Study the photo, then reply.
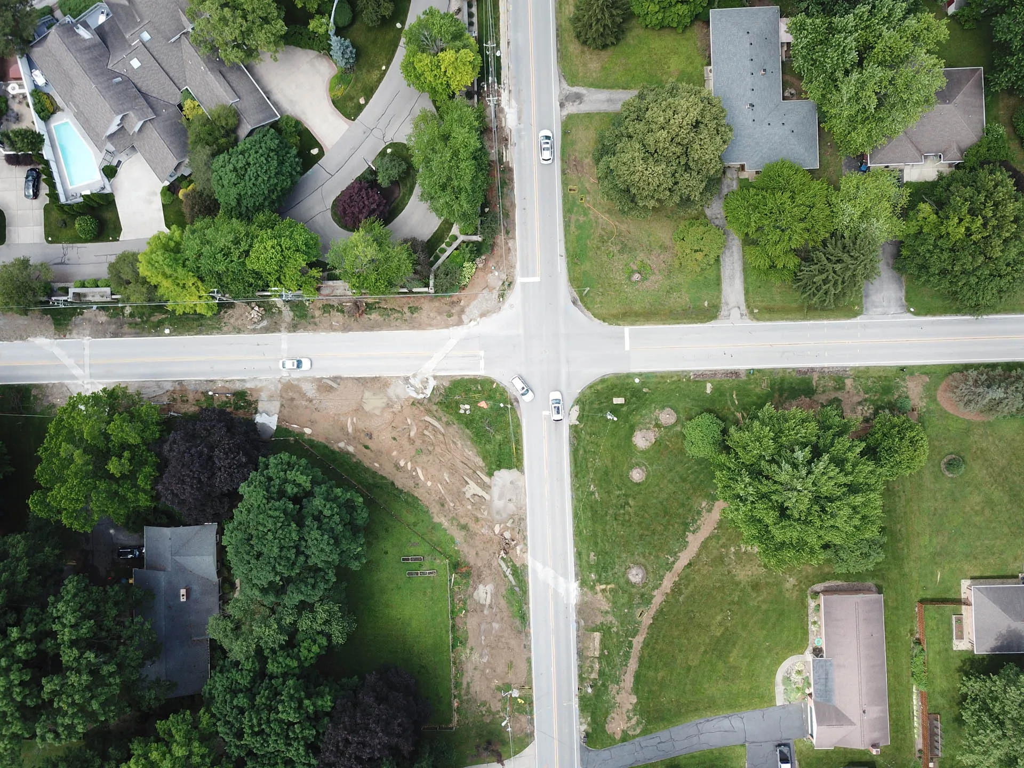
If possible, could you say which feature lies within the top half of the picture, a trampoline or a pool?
pool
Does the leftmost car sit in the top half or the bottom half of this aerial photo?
top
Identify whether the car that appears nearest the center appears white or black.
white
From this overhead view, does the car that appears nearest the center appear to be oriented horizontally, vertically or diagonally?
diagonally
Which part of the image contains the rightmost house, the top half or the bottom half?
bottom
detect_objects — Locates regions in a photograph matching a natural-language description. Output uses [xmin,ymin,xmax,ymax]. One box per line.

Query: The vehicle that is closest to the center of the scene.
[509,372,536,404]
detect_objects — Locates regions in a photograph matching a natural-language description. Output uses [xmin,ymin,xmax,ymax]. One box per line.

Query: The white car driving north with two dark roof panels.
[538,130,554,164]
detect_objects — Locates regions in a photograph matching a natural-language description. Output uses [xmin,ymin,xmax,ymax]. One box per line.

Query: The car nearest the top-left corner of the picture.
[22,167,43,200]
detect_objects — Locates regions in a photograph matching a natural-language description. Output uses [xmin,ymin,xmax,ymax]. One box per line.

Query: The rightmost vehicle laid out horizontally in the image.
[280,356,312,372]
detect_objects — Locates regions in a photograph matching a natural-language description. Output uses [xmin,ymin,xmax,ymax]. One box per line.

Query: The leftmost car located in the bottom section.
[116,545,144,561]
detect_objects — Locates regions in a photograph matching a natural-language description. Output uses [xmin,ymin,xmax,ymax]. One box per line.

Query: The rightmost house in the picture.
[965,584,1024,654]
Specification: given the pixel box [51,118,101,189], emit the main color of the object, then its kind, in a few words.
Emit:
white swimming pool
